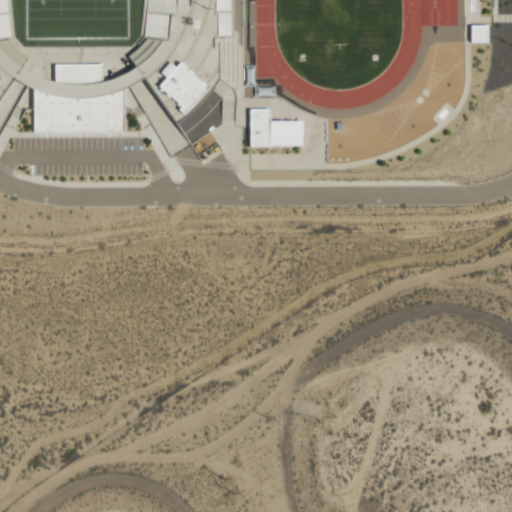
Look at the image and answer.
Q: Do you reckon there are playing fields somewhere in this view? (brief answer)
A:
Yes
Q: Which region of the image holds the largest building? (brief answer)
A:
top left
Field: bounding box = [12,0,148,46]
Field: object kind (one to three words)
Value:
sports field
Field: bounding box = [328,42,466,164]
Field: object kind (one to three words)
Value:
sports field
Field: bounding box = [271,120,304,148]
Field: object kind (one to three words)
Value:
building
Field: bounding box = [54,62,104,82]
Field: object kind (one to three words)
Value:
building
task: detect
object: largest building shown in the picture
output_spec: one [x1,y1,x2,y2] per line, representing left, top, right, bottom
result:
[34,88,124,137]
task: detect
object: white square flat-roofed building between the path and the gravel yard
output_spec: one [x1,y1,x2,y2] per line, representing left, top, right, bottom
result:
[471,24,490,44]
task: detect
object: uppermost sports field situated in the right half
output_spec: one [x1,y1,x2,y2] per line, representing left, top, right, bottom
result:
[276,0,403,90]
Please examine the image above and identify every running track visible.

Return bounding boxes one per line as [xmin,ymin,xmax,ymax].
[256,0,466,118]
